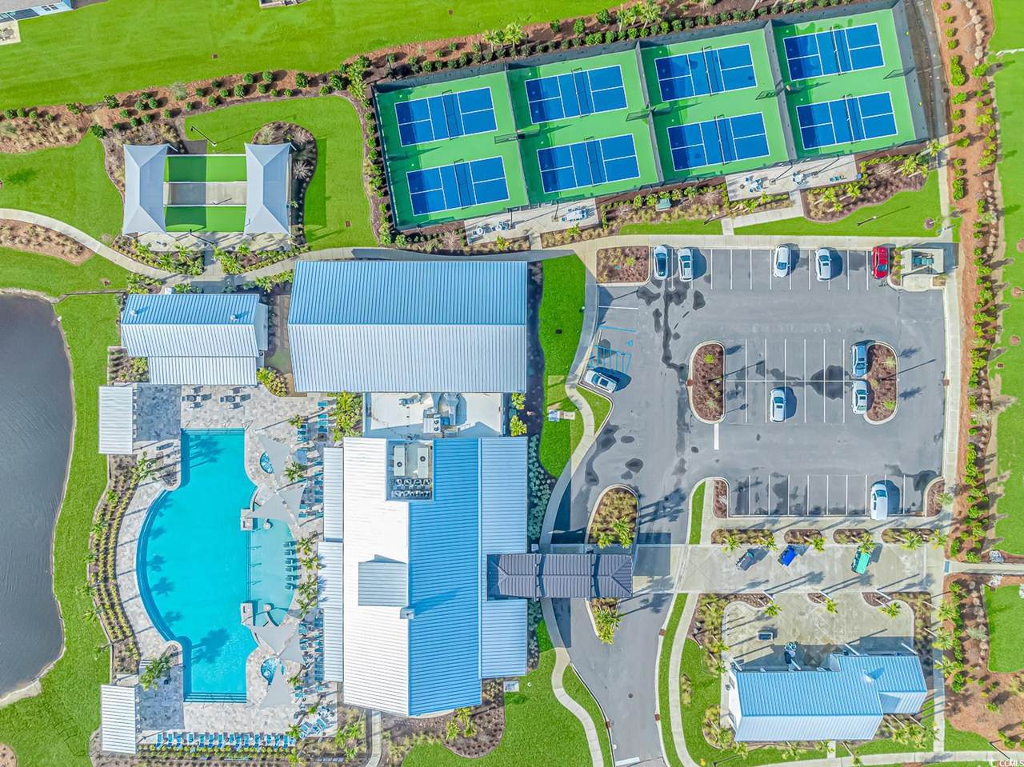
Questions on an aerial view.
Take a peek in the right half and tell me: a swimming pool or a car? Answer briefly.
car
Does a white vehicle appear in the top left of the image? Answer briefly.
No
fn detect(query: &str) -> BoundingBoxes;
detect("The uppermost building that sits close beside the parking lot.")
[288,260,527,393]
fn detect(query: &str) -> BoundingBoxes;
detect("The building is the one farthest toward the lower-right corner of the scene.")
[729,647,926,740]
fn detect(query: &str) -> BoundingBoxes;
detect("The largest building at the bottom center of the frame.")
[318,436,526,716]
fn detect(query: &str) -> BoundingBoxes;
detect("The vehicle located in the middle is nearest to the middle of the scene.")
[582,370,618,394]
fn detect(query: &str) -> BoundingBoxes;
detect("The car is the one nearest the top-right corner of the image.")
[871,245,890,280]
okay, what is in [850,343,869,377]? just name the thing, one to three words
car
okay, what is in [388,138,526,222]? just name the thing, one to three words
sports court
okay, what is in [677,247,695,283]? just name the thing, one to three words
car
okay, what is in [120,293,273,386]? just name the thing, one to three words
building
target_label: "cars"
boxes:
[850,343,869,377]
[772,244,790,280]
[871,245,890,280]
[652,245,669,280]
[768,387,787,422]
[814,248,833,282]
[869,481,890,520]
[850,379,870,414]
[582,370,618,394]
[677,247,695,283]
